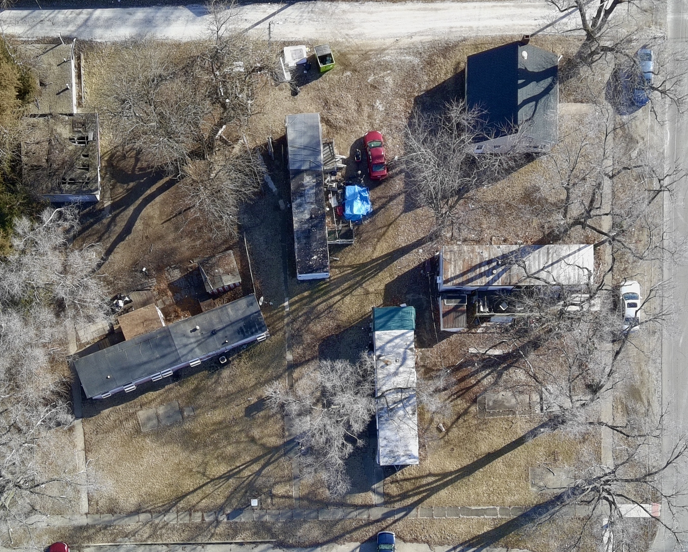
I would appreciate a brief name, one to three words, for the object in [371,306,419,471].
house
